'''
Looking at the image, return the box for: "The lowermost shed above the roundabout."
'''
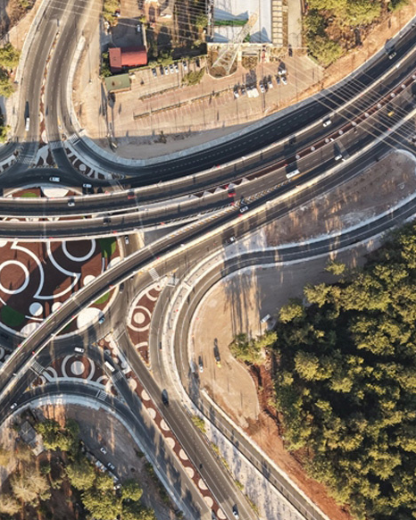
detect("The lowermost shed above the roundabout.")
[104,73,130,93]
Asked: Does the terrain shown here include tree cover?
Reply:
Yes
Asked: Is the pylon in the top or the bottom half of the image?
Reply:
top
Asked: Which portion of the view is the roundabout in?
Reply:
left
